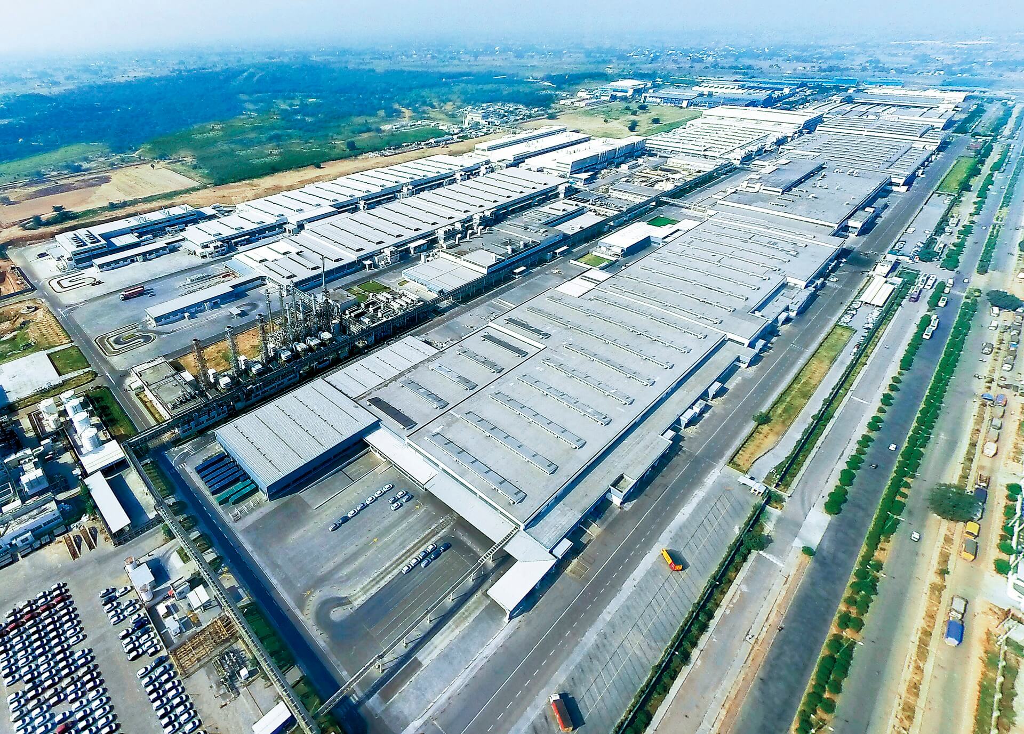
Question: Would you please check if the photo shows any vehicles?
Yes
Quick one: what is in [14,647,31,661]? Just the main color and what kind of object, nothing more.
white car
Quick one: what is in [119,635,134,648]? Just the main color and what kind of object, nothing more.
white vehicle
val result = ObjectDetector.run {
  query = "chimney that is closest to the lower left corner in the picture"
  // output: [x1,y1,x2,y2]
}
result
[189,339,210,397]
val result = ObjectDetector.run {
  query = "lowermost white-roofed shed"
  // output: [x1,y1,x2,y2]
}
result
[251,700,291,734]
